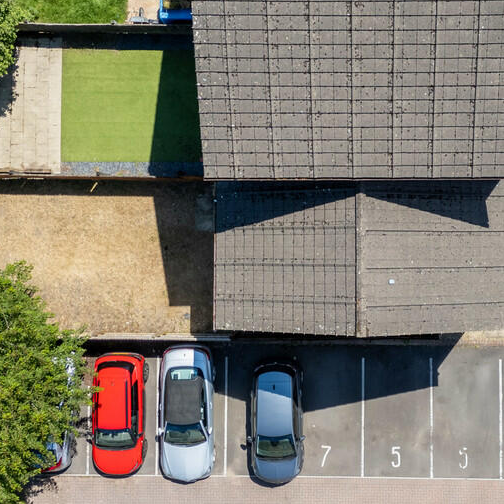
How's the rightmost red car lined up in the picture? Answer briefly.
from top to bottom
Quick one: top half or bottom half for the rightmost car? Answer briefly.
bottom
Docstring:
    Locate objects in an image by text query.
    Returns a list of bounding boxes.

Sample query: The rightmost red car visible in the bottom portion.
[87,351,149,477]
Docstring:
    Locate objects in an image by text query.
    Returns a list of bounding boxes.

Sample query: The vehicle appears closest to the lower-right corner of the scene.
[246,359,309,486]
